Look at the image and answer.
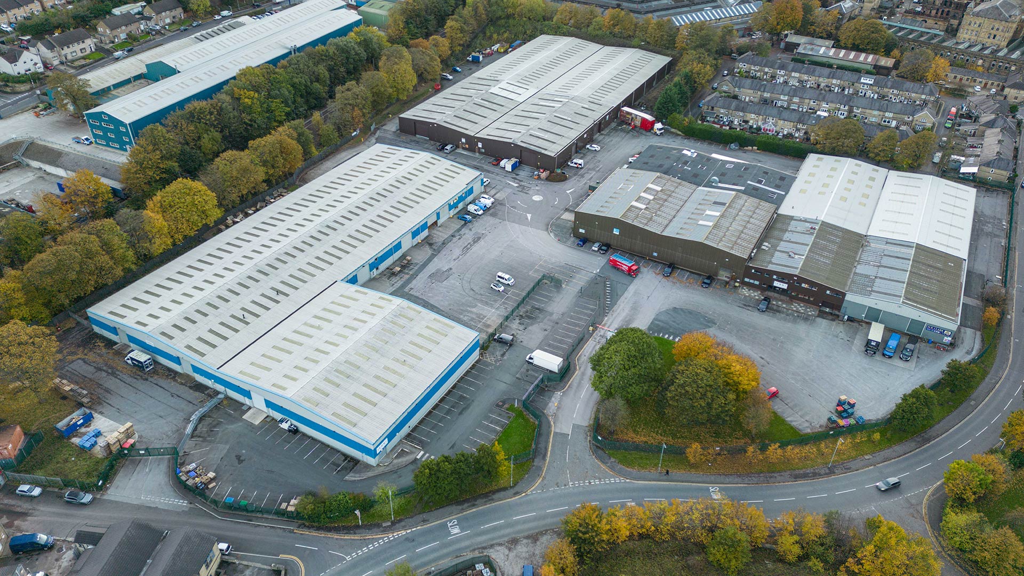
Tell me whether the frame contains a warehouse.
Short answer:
Yes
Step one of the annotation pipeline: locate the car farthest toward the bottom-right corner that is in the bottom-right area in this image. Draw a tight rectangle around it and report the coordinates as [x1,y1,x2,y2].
[876,477,902,492]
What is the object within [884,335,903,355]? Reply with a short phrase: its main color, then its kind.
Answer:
blue vehicle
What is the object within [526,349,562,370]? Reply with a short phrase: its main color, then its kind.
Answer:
white vehicle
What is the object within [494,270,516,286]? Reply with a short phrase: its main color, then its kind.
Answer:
white vehicle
